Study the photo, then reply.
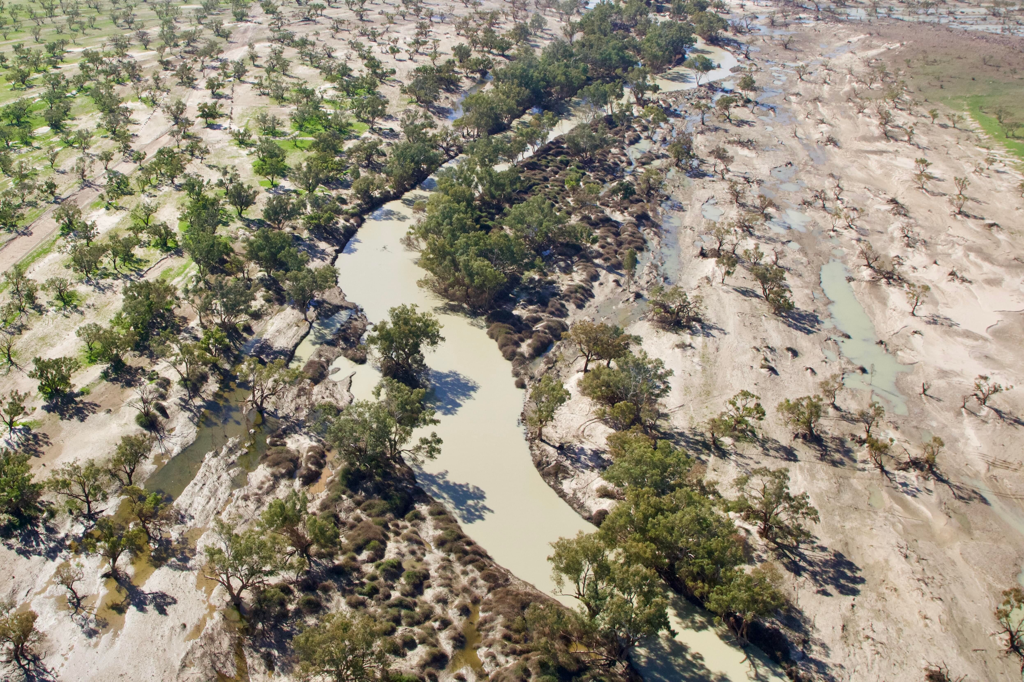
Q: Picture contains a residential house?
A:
No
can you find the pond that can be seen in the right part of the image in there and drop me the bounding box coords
[818,257,916,418]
